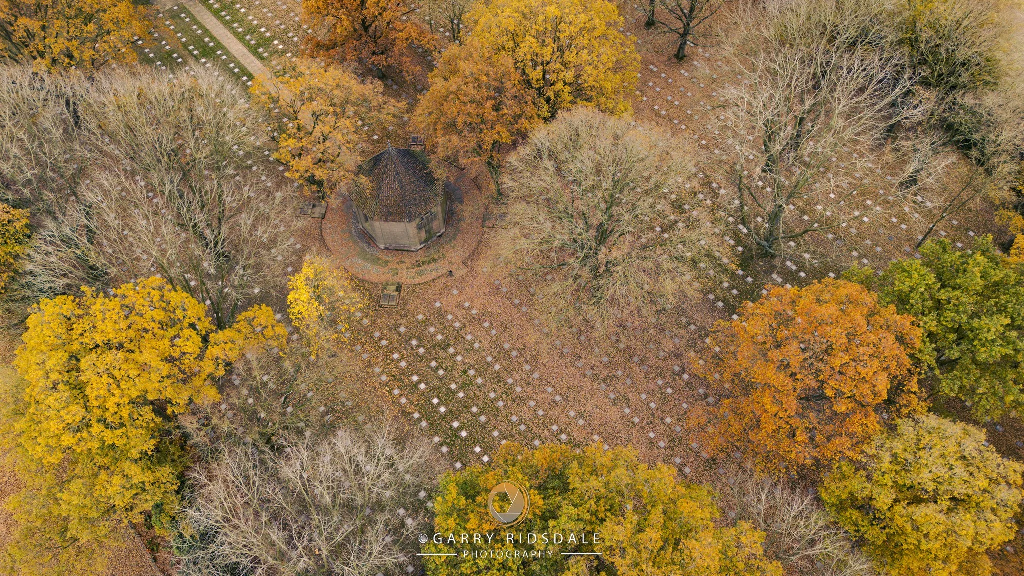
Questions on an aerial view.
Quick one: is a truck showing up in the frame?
No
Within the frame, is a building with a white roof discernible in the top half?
No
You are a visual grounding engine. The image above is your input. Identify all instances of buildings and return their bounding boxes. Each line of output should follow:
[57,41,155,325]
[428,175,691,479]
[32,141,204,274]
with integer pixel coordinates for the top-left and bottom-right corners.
[347,139,451,252]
